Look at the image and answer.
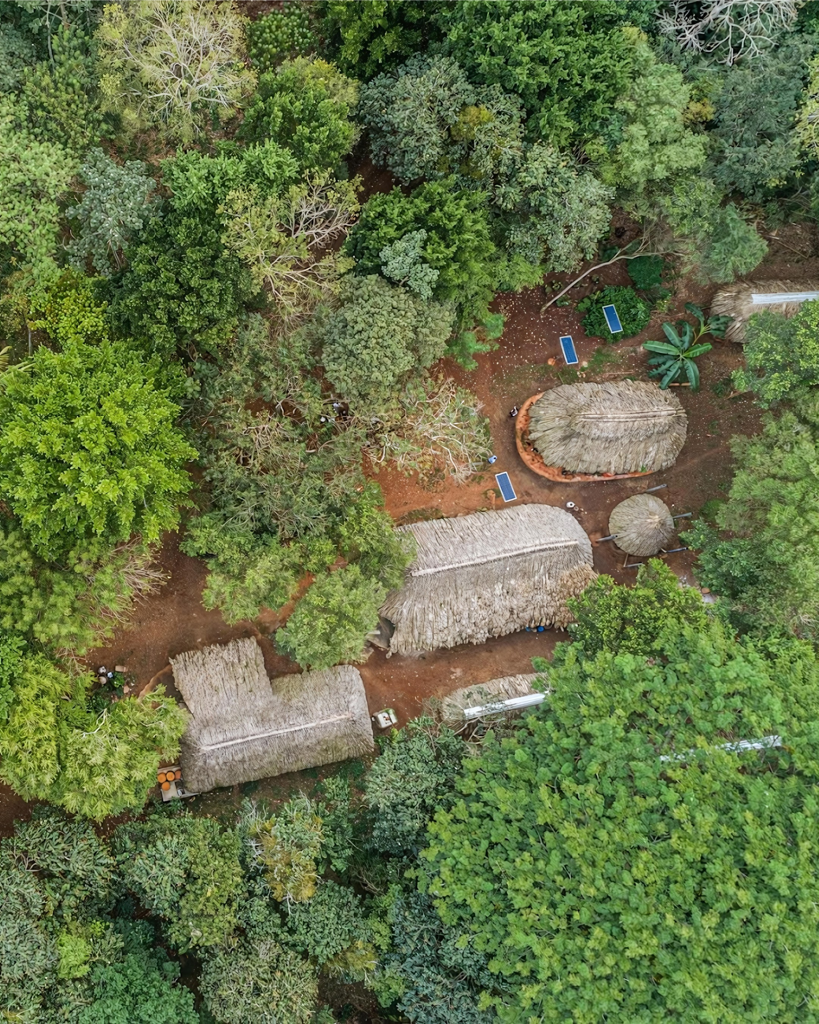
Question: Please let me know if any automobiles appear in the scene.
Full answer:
No, no automobile is visible in the scene.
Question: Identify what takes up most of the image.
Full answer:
Most of the picture is covered by trees.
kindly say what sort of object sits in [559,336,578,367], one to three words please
solar panel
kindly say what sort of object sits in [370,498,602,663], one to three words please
shed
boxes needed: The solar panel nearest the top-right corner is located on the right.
[602,305,623,336]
